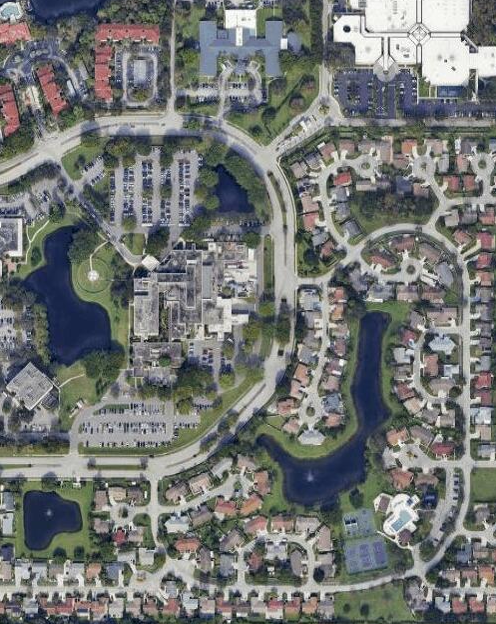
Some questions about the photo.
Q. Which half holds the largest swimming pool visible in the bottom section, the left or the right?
right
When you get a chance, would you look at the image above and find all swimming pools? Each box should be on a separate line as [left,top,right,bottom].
[0,2,21,21]
[375,494,420,536]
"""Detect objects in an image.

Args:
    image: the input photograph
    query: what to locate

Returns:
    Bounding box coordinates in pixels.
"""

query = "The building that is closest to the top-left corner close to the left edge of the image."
[0,22,29,43]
